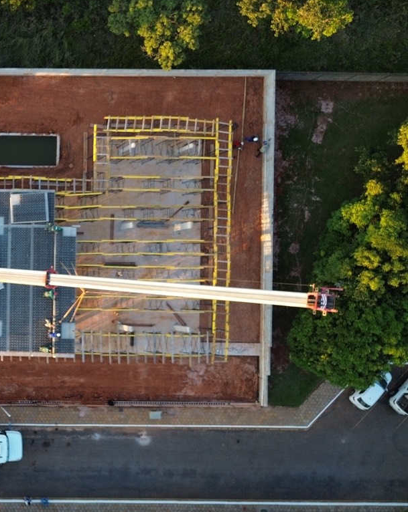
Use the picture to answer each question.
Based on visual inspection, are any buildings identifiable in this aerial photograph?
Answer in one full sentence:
No, no building is visible in the scene.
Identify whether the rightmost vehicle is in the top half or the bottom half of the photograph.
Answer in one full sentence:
You can find the rightmost vehicle in the bottom half.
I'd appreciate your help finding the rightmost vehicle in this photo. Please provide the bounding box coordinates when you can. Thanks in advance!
[385,379,408,423]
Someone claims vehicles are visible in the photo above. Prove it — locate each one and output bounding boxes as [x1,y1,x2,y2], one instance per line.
[385,379,408,423]
[0,427,26,468]
[344,363,393,412]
